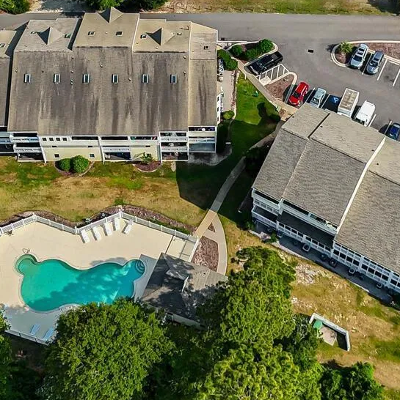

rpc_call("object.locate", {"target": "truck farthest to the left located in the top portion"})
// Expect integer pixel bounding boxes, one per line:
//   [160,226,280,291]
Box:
[251,51,282,73]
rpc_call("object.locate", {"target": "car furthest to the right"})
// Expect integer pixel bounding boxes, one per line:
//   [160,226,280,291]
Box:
[384,120,400,140]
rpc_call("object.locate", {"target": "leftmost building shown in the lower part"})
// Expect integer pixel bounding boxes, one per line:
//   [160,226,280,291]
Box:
[139,253,226,329]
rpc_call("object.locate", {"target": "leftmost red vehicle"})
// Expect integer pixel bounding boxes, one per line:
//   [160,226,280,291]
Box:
[288,82,310,106]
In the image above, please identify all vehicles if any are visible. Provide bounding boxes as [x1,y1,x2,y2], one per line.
[354,98,375,128]
[351,44,368,68]
[366,51,384,74]
[337,84,360,120]
[288,82,310,106]
[251,51,282,73]
[309,86,326,110]
[384,120,400,140]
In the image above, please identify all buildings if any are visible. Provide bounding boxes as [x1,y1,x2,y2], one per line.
[0,6,222,168]
[139,253,226,329]
[246,104,400,292]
